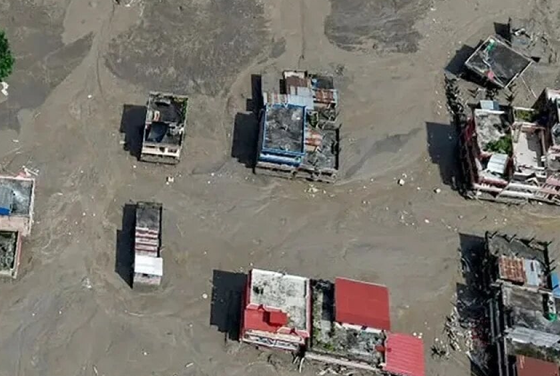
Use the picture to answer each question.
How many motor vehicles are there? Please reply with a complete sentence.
I count no motor vehicles.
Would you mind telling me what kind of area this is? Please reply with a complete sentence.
What you see here is a residential area.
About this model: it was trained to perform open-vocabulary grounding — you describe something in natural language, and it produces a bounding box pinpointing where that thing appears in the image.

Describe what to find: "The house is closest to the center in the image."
[257,72,339,181]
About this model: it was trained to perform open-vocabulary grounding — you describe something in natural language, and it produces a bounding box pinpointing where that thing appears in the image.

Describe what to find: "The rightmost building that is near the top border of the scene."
[503,19,553,65]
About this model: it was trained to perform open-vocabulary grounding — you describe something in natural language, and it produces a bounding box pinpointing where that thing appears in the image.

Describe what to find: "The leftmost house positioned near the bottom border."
[236,270,310,359]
